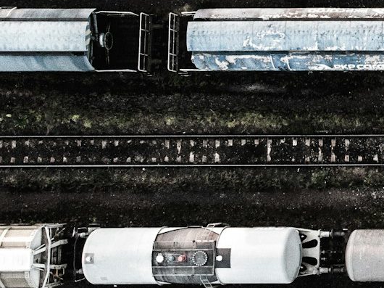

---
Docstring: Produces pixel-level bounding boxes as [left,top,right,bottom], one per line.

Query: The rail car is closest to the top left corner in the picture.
[0,7,176,76]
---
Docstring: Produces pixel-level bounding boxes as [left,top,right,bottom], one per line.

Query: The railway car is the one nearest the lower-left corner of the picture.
[0,219,85,288]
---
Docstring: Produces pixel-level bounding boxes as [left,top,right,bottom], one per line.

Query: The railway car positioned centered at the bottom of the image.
[65,221,331,288]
